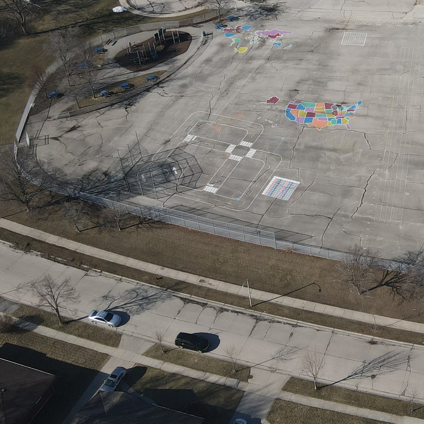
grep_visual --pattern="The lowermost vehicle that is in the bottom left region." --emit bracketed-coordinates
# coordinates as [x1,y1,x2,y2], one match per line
[98,361,131,395]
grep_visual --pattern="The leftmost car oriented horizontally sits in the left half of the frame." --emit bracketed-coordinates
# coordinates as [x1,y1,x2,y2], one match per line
[86,310,122,327]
